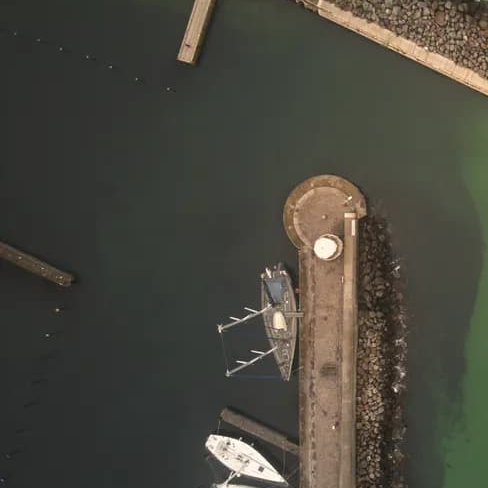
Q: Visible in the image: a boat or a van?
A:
boat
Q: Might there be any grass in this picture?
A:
No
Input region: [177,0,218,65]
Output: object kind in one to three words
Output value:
pier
